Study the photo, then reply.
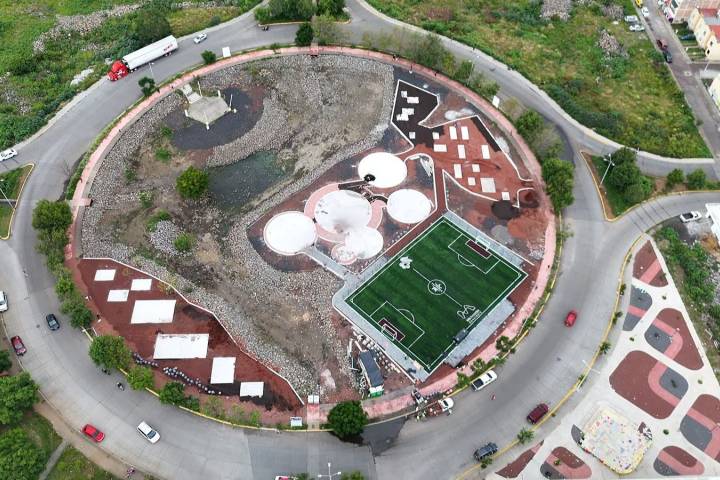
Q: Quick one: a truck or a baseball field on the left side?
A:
truck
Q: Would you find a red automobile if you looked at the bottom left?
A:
Yes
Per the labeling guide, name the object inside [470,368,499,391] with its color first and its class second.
white truck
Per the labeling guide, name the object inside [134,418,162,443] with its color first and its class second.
white car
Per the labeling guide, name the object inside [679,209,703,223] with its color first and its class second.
white vehicle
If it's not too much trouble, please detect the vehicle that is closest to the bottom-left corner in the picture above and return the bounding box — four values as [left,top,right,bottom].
[80,422,105,443]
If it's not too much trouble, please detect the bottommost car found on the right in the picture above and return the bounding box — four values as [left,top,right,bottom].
[471,439,501,462]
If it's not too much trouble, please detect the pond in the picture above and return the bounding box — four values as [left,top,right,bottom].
[205,149,290,216]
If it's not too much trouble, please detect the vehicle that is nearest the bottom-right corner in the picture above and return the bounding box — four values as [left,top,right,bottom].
[525,401,551,424]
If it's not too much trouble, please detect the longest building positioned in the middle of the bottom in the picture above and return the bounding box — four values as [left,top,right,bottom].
[359,351,383,388]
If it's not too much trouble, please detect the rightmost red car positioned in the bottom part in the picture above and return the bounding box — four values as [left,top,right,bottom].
[562,309,578,328]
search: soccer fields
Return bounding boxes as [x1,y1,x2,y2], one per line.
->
[345,214,529,373]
